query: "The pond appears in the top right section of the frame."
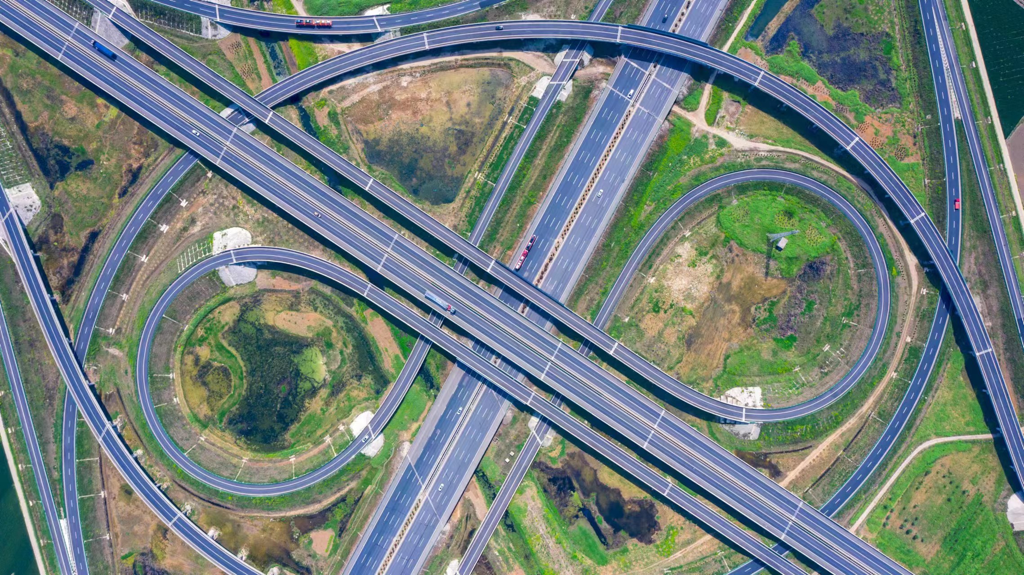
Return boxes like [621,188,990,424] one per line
[776,0,901,110]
